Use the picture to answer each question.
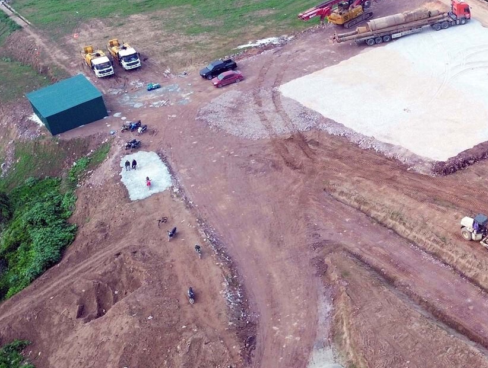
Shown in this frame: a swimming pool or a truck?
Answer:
truck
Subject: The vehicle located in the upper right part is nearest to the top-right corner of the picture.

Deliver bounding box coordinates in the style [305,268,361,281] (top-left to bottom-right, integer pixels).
[354,1,476,45]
